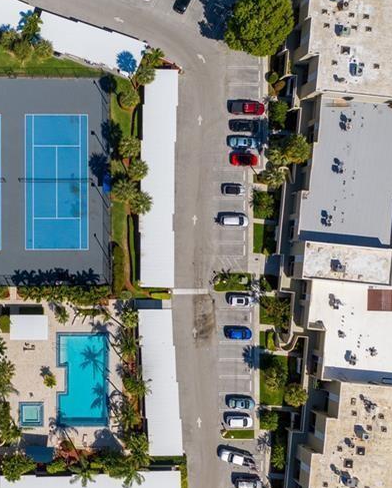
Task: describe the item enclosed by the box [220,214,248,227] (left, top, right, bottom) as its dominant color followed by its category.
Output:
white vehicle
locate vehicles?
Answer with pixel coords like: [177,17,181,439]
[230,152,255,166]
[229,119,257,132]
[220,214,248,227]
[173,0,189,16]
[227,295,255,308]
[228,135,256,148]
[229,101,262,114]
[222,449,253,467]
[225,327,252,340]
[226,416,255,430]
[235,478,263,488]
[227,397,255,411]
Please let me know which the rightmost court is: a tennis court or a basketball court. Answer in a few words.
tennis court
